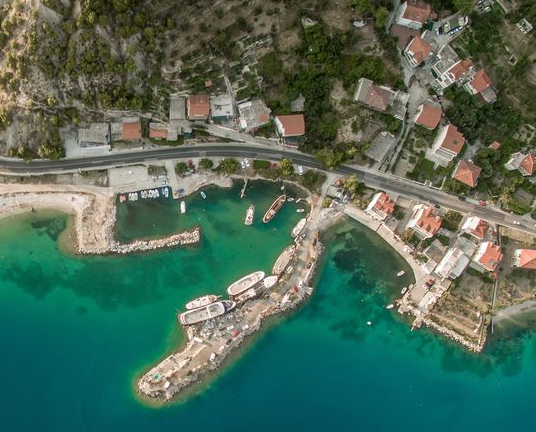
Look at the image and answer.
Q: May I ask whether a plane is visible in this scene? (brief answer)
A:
No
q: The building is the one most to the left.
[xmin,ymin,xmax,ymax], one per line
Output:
[79,123,109,144]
